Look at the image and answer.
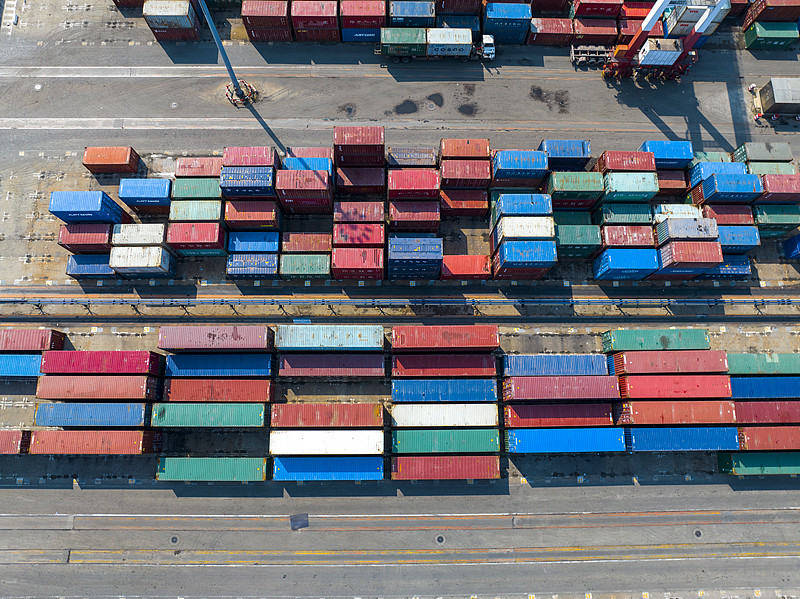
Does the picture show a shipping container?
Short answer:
Yes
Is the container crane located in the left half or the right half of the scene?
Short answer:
right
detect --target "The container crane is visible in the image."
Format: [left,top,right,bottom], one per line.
[600,0,726,89]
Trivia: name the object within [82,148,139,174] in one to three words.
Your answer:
shipping container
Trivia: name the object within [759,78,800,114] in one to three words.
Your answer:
shed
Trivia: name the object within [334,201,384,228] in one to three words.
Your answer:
shipping container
